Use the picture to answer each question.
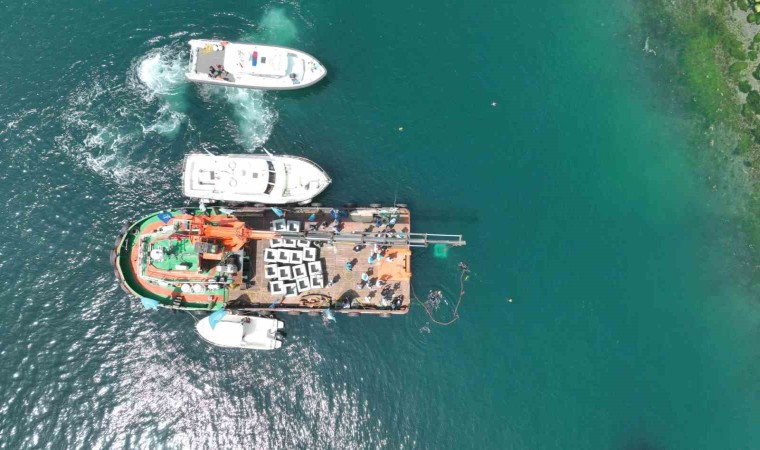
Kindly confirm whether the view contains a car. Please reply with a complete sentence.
No, there isn't any car down there.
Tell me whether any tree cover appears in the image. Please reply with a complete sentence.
No, the picture contains no tree cover.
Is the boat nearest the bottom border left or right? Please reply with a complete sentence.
The boat nearest the bottom border appears in the left half of the scene.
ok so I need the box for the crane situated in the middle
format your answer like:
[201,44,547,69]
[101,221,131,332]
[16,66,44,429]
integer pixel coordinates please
[190,215,466,262]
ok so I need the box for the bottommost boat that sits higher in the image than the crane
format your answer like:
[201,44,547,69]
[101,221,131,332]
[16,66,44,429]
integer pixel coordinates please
[186,148,330,205]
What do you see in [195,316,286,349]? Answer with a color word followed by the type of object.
white boat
